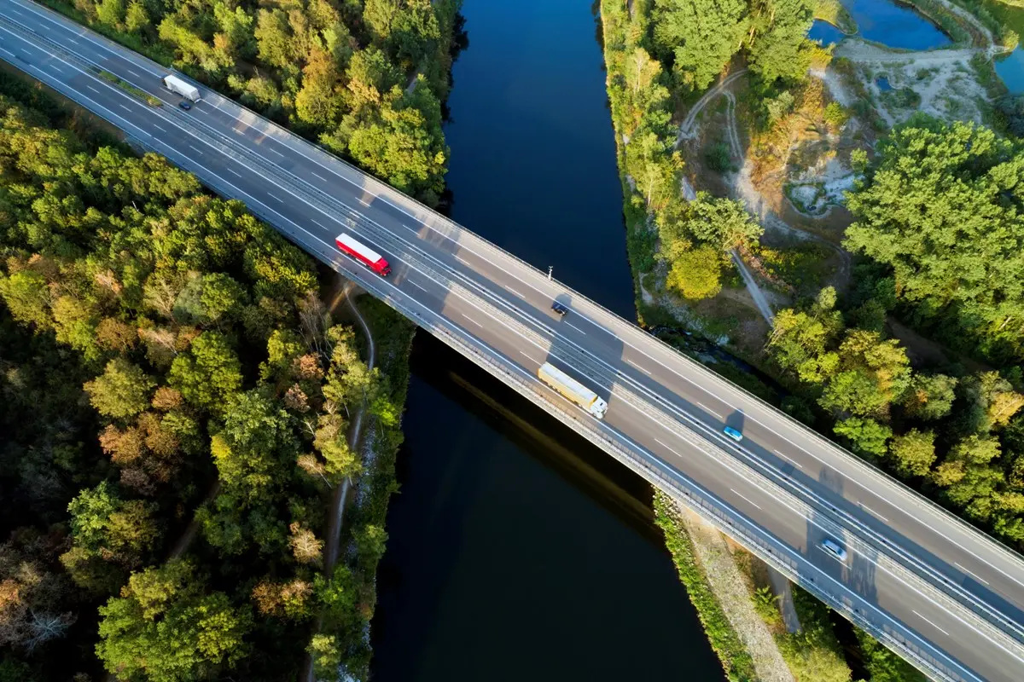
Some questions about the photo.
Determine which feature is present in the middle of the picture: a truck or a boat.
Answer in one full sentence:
Looking in the middle of the picture, you will find a truck.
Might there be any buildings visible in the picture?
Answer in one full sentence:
No, no building is visible in the view.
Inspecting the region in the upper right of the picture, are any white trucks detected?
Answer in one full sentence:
No, no white truck appears in the upper right of the picture.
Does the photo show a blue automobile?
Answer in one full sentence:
Yes, I can see a blue automobile in this picture.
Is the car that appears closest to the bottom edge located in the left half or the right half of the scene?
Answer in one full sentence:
The car that appears closest to the bottom edge sits on the right side.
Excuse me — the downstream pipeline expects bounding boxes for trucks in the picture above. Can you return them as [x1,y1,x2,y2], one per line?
[162,73,203,101]
[540,362,609,418]
[335,232,389,276]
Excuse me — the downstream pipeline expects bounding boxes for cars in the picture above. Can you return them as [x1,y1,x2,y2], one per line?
[819,537,846,559]
[721,425,742,442]
[178,101,191,109]
[550,303,570,317]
